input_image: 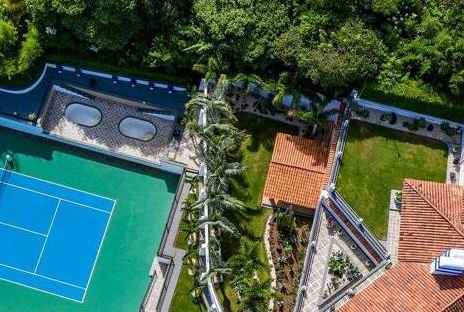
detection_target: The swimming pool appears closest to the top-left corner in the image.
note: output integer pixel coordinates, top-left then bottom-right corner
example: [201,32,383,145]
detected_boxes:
[66,102,103,129]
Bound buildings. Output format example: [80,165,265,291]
[339,127,464,312]
[262,132,330,211]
